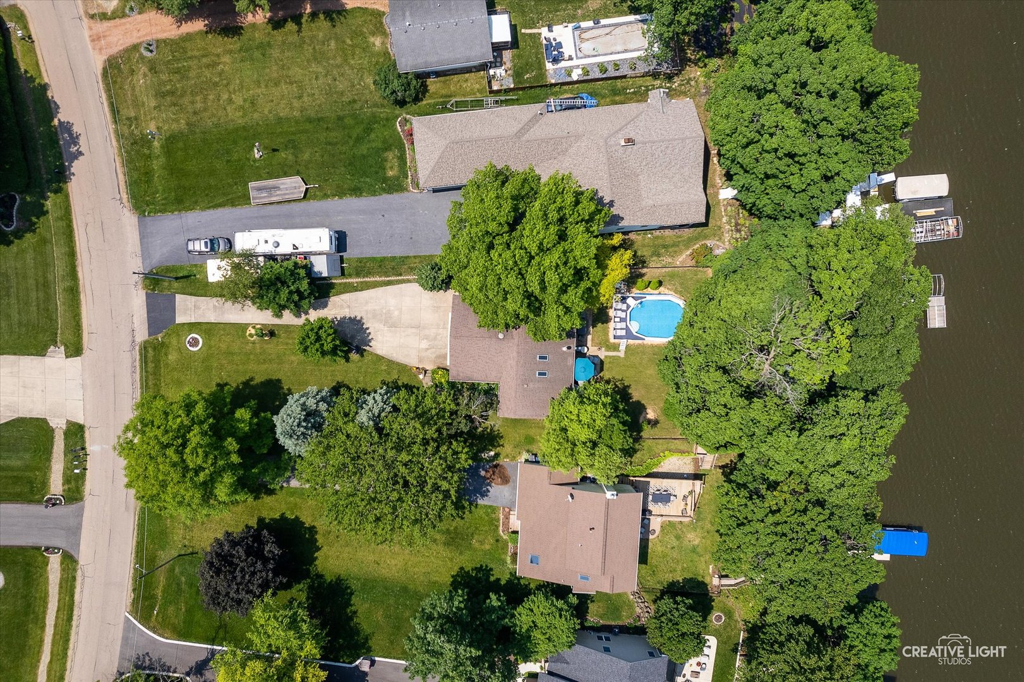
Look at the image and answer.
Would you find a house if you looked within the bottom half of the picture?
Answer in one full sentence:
Yes, looking within the bottom half of the picture, one can make out a house.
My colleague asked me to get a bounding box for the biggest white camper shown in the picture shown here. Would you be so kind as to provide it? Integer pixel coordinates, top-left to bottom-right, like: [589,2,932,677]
[233,220,348,252]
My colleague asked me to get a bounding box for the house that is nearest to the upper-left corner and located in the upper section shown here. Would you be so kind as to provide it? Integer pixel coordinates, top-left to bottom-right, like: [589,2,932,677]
[385,0,494,77]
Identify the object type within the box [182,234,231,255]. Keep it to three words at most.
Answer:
car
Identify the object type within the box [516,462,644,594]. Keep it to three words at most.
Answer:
house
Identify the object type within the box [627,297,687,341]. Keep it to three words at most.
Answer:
swimming pool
